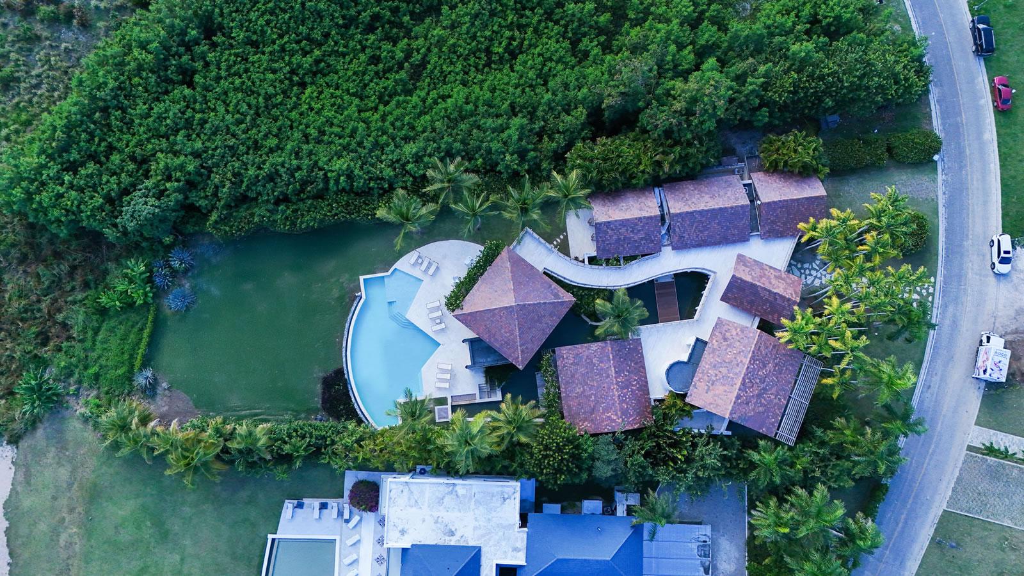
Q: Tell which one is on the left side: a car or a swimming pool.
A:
swimming pool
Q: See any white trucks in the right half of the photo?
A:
Yes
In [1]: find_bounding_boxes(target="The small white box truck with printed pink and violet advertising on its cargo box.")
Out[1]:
[968,331,1011,388]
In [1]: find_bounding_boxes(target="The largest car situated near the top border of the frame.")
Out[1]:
[971,14,998,56]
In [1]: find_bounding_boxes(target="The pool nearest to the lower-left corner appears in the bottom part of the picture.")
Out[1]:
[263,533,340,576]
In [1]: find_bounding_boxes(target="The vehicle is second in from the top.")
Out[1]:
[992,75,1016,111]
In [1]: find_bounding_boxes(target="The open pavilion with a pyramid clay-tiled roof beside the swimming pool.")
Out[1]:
[452,246,576,370]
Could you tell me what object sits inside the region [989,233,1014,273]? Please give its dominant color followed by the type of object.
white car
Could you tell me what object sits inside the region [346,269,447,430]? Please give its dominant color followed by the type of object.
blue swimming pool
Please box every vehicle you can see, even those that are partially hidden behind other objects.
[992,75,1016,111]
[971,14,998,56]
[989,233,1014,273]
[968,331,1011,388]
